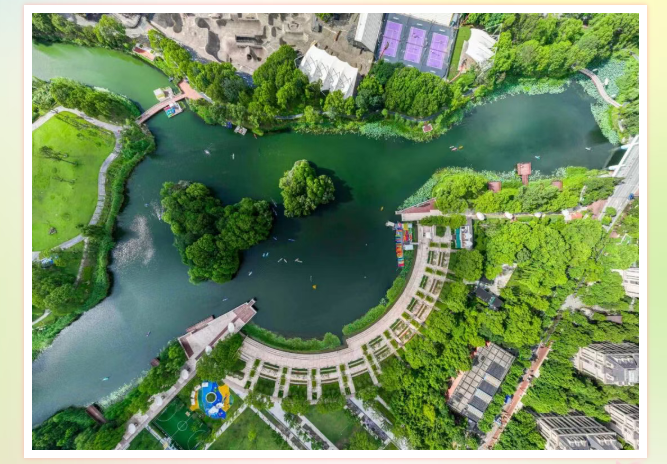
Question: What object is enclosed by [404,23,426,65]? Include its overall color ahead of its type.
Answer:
purple tennis court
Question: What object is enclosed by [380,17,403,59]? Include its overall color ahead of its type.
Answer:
purple tennis court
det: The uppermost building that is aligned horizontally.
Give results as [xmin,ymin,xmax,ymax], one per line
[388,0,458,28]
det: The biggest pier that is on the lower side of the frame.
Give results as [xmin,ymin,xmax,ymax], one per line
[178,298,257,364]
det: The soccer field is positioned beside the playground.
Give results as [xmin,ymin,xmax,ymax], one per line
[148,395,213,458]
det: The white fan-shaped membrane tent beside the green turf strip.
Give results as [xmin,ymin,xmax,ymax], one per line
[462,27,495,67]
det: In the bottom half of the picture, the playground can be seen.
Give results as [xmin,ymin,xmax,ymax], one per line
[190,381,233,420]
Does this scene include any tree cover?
Yes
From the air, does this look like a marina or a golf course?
marina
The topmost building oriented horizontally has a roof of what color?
white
